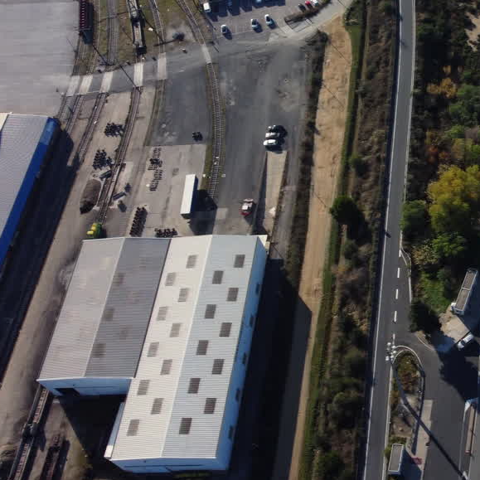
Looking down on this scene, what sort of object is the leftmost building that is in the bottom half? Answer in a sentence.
The leftmost building that is in the bottom half can be classified as a warehouse.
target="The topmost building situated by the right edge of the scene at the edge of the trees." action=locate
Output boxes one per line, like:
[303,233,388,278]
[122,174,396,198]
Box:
[454,269,478,319]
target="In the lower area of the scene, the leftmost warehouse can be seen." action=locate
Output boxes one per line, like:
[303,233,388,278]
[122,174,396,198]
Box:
[35,234,170,395]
